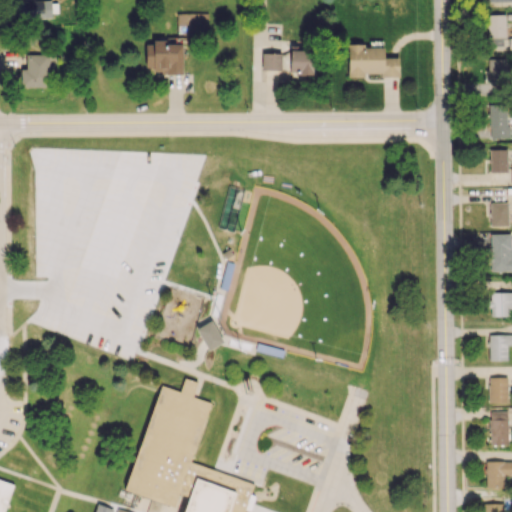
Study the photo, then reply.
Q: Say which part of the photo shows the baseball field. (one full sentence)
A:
The baseball field is in the center part of the image.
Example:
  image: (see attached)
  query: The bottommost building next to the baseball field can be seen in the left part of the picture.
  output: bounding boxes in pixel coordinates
[126,379,256,512]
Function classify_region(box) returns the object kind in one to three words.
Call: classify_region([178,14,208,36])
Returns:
shed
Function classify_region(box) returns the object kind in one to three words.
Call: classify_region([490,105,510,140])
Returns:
house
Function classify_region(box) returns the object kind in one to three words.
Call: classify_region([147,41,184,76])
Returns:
house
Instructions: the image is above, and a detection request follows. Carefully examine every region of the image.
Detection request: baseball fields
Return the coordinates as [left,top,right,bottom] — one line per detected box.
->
[220,187,372,371]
